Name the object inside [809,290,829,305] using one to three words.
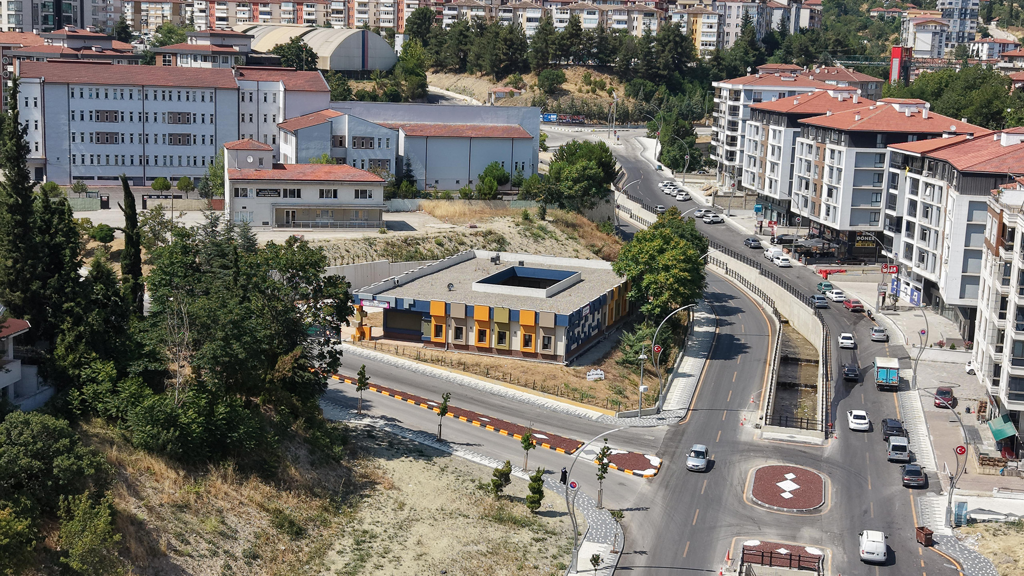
car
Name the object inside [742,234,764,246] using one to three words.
vehicle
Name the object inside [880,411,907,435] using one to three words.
car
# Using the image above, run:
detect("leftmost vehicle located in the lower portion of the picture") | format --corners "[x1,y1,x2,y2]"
[687,440,712,470]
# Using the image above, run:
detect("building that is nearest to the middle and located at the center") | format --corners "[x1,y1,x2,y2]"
[353,248,632,365]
